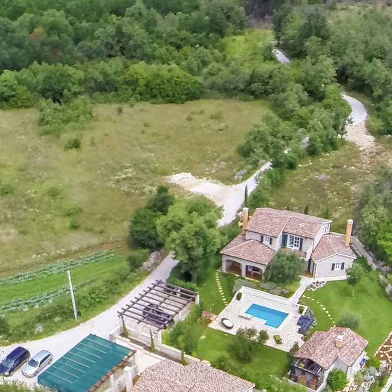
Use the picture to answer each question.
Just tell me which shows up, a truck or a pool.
pool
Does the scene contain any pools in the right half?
Yes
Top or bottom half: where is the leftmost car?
bottom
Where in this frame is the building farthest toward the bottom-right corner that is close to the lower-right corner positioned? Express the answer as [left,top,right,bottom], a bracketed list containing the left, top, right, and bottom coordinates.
[290,327,368,390]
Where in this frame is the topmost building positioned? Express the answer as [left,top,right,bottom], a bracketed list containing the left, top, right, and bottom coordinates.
[219,208,350,280]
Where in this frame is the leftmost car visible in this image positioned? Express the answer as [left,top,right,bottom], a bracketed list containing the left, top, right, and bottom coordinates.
[0,345,29,373]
